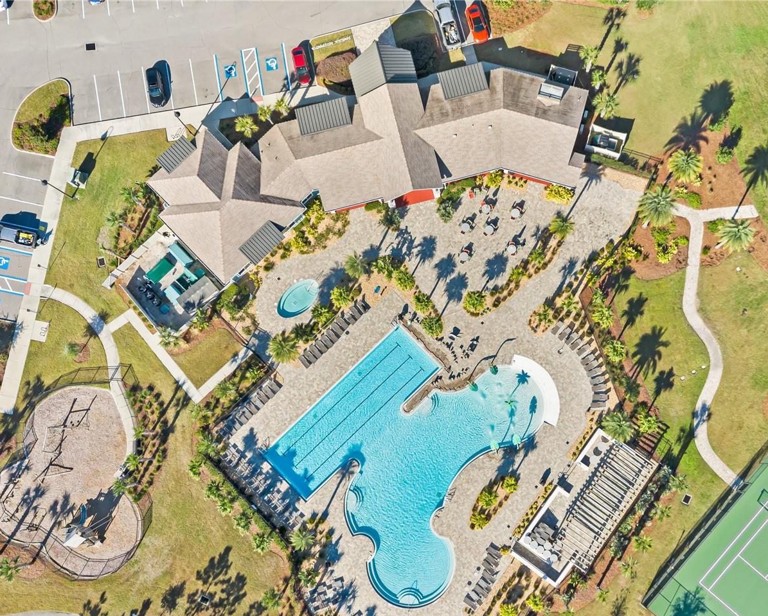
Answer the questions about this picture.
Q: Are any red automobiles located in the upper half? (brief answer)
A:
Yes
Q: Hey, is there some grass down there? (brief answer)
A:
Yes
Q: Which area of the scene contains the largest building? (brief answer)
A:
top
